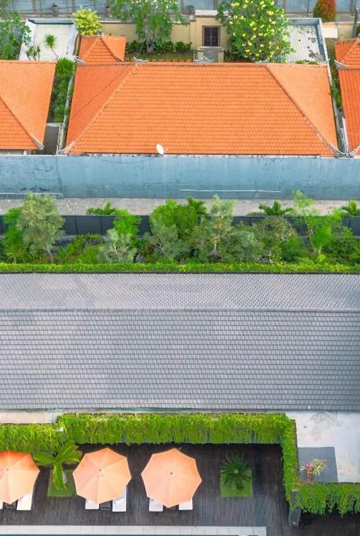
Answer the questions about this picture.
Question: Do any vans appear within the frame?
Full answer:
No, the scene contains no van.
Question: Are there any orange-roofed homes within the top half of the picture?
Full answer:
Yes, I can see an orange-roofed home within the top half of the picture.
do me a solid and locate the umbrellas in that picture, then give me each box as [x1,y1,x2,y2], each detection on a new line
[71,447,133,506]
[140,447,202,506]
[0,447,41,506]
